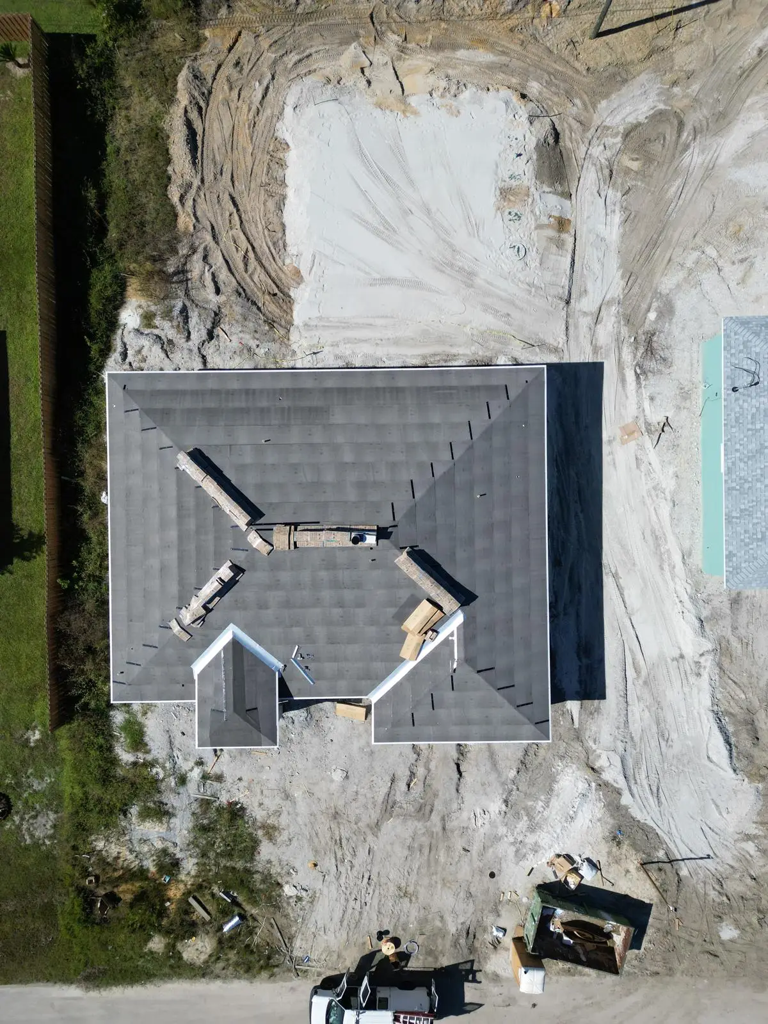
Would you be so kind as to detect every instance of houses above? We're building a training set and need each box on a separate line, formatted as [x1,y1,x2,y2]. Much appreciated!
[701,314,768,590]
[106,365,552,748]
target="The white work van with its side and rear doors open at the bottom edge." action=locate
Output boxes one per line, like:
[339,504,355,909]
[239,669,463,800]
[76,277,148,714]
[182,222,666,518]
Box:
[308,964,438,1024]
